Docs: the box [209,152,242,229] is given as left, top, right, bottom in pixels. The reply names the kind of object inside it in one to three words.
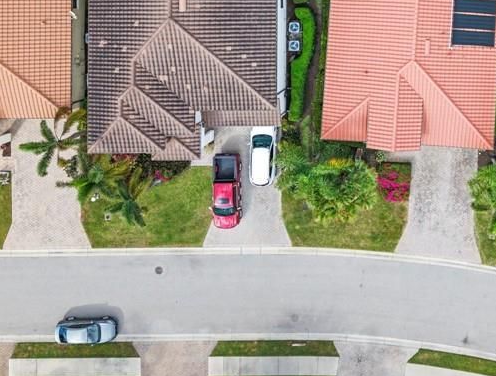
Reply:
truck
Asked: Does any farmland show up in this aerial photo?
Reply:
No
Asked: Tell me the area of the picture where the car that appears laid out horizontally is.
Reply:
bottom left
